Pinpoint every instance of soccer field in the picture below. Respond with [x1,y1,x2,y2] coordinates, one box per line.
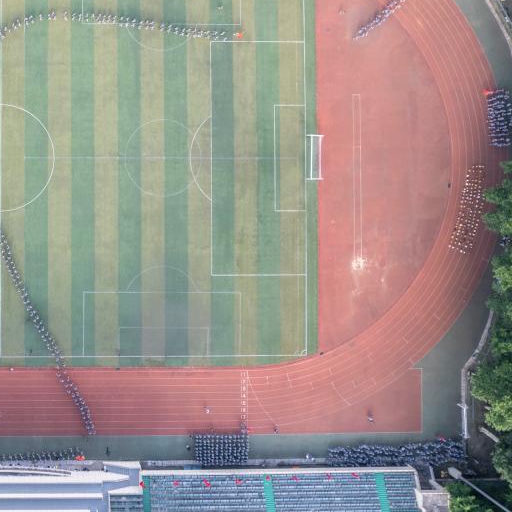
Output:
[24,0,301,356]
[0,0,319,367]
